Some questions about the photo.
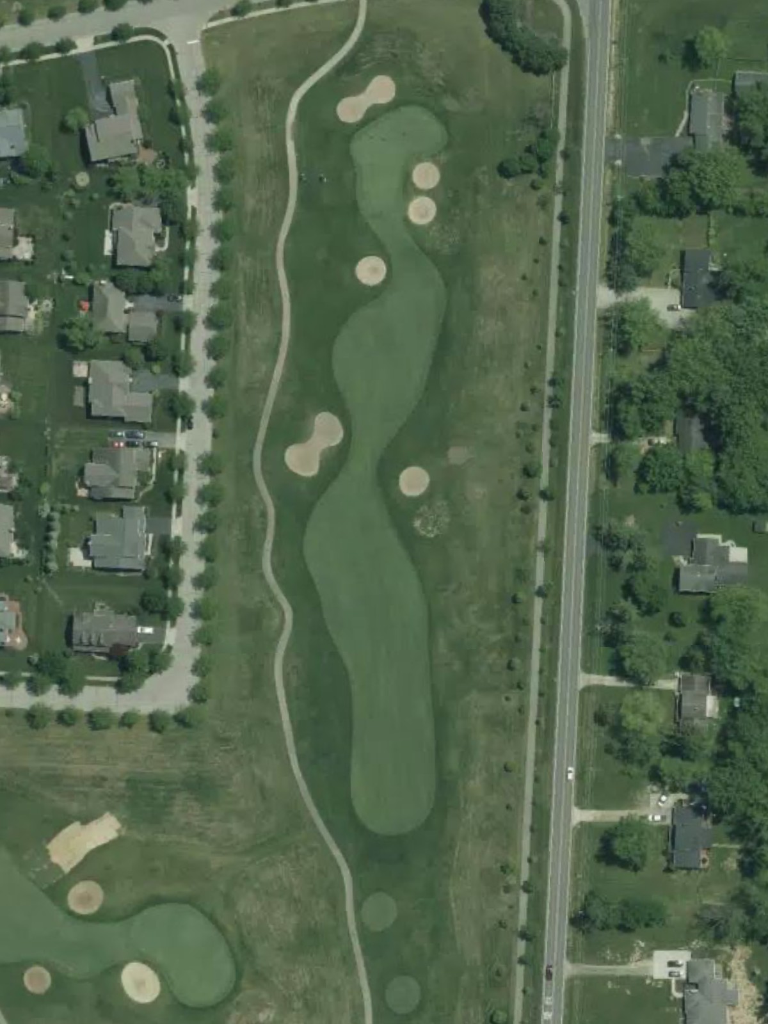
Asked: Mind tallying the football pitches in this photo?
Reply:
0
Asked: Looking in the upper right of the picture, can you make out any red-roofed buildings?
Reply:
No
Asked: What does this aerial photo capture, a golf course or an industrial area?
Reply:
golf course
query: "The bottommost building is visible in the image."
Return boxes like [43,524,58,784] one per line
[684,959,739,1024]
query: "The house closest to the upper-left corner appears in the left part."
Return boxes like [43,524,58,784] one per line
[0,109,28,158]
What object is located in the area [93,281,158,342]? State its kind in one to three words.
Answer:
house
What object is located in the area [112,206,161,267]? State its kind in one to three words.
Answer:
house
